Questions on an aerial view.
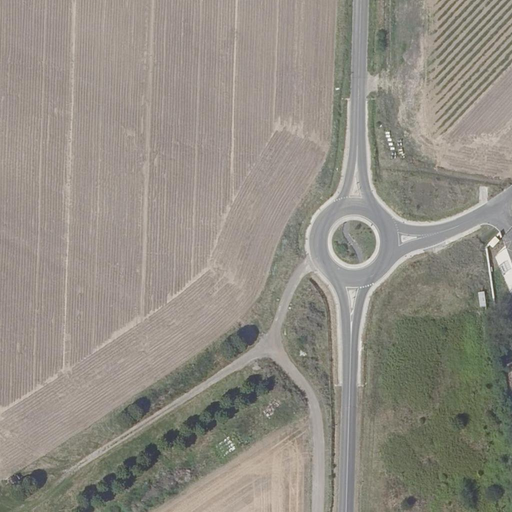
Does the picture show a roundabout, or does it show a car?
roundabout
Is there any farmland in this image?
Yes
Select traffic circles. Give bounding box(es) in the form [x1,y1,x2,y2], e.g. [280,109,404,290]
[309,150,422,335]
